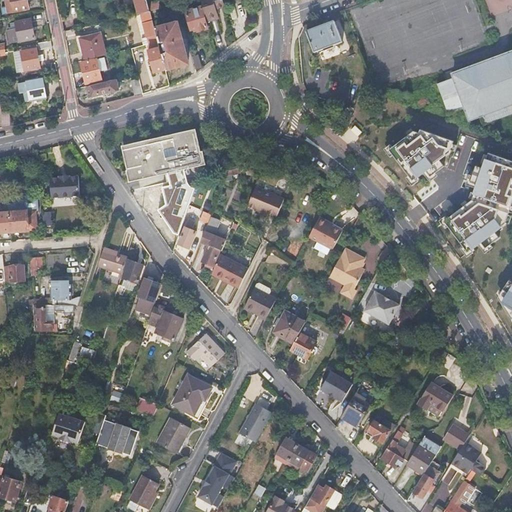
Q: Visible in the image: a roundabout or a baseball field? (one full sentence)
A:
I can see a roundabout in this picture.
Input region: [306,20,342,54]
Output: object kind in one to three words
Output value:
house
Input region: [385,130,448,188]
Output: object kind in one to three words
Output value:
building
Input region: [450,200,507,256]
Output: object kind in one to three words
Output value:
building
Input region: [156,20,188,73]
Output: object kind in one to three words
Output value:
house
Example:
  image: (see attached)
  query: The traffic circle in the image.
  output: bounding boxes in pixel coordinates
[213,72,286,144]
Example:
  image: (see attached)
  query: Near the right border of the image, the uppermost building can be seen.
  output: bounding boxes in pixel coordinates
[438,50,512,124]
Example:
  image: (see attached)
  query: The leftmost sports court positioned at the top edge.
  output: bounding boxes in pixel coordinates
[350,0,484,82]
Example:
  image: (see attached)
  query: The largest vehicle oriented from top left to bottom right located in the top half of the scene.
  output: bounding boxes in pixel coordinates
[88,156,106,176]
